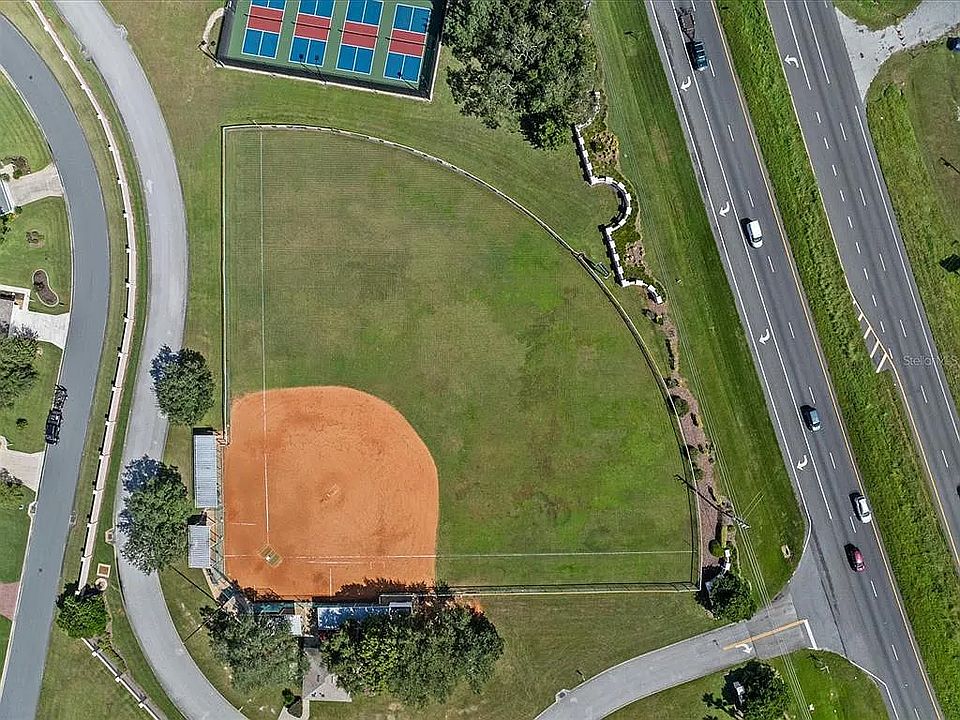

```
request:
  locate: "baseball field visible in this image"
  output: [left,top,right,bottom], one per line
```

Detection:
[224,128,698,599]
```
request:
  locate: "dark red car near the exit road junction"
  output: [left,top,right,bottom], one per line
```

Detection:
[848,546,864,572]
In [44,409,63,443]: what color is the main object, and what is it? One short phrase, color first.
black vehicle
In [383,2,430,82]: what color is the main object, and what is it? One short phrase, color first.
blue sports court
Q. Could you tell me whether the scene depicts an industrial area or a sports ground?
sports ground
